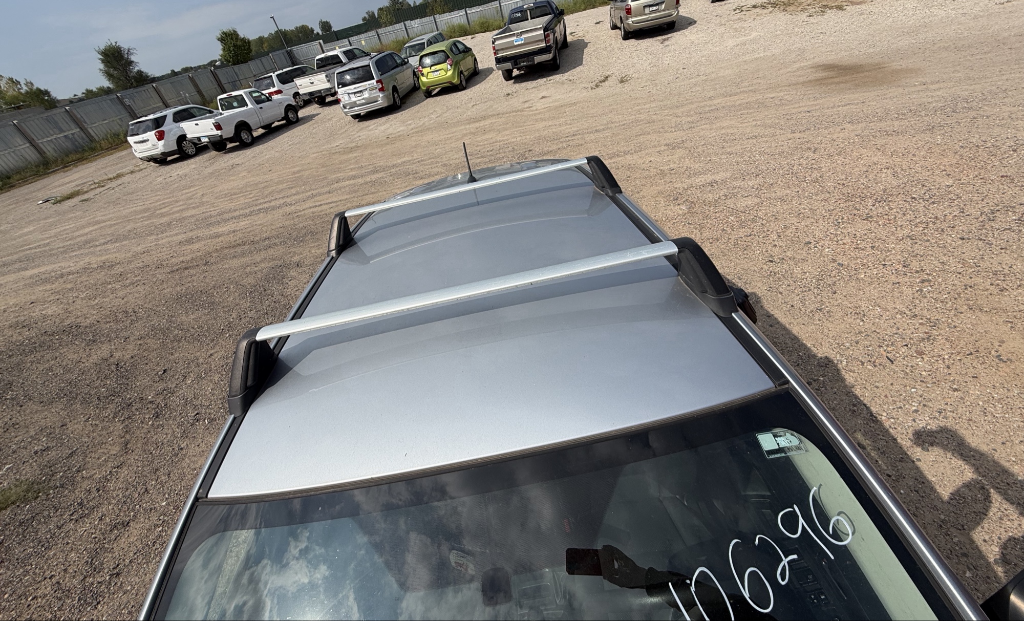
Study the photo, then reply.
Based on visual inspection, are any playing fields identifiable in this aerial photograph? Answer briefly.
No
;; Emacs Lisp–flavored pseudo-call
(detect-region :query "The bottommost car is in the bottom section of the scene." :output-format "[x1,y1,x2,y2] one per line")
[134,141,1024,621]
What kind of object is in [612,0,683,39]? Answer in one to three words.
car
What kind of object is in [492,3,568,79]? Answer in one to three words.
truck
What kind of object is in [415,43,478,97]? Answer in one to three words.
car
